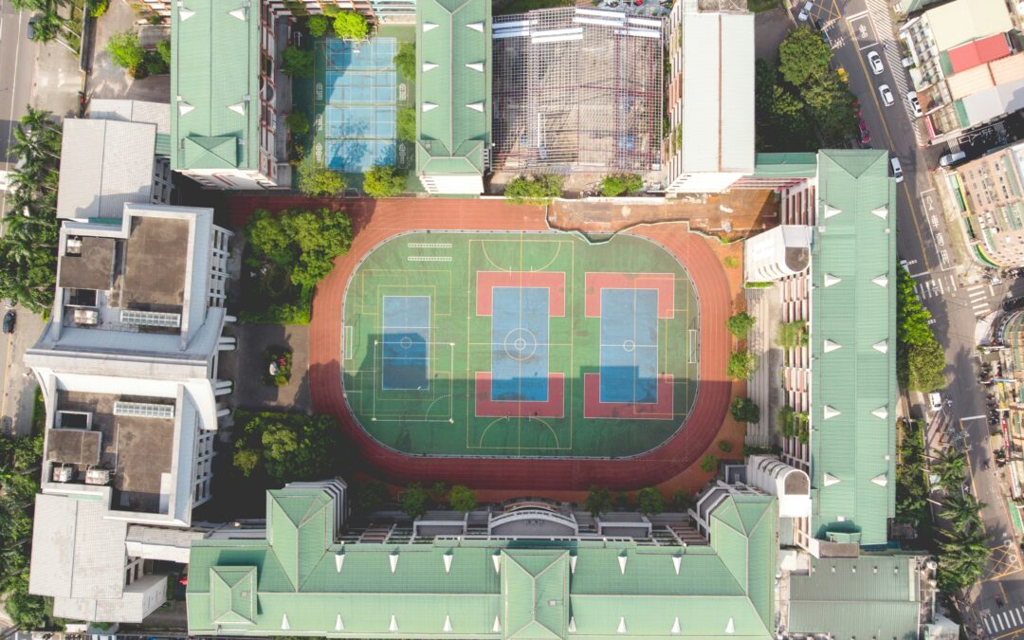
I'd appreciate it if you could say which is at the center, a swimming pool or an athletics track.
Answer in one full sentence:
There is an athletics track at the center.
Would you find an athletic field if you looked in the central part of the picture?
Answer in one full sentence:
Yes, an athletic field can be seen in the central part of the picture.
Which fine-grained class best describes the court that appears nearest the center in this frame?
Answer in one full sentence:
What you see as the court that appears nearest the center is a basketball court.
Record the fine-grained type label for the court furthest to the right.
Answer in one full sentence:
Specifically, the court furthest to the right is a basketball court.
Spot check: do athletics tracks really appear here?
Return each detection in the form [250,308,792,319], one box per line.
[228,197,732,490]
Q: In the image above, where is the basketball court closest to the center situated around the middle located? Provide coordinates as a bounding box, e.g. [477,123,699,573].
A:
[476,272,564,418]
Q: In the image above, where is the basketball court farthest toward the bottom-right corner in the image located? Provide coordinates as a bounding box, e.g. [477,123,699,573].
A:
[585,273,688,419]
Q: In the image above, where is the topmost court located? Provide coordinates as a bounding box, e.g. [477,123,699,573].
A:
[294,23,417,194]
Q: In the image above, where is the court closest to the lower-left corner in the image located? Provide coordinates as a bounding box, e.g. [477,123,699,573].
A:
[343,270,451,416]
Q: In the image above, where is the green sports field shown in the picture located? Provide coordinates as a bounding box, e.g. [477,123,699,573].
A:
[341,231,700,459]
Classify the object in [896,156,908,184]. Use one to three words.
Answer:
vehicle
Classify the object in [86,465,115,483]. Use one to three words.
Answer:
water tank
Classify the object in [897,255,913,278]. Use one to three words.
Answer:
car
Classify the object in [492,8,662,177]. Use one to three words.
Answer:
building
